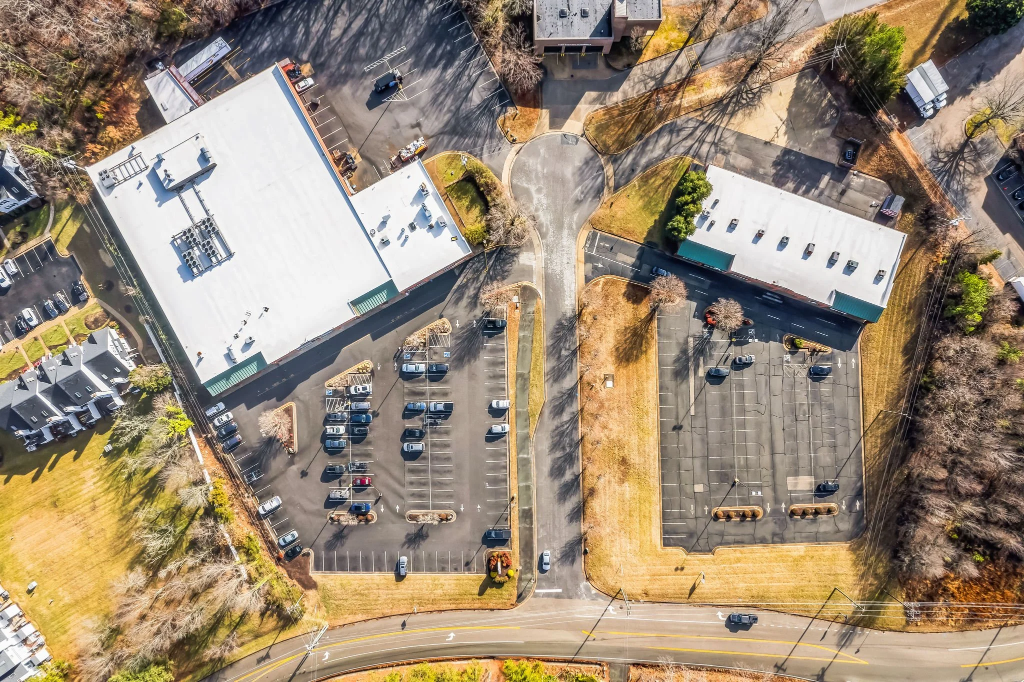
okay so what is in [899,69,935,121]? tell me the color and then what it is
white truck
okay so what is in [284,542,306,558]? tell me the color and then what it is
black car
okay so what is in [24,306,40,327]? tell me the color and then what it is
white car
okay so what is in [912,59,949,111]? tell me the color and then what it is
white truck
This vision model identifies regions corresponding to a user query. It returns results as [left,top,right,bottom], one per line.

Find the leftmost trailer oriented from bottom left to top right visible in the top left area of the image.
[177,38,233,84]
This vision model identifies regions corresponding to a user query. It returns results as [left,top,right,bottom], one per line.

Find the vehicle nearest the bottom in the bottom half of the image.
[728,612,756,625]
